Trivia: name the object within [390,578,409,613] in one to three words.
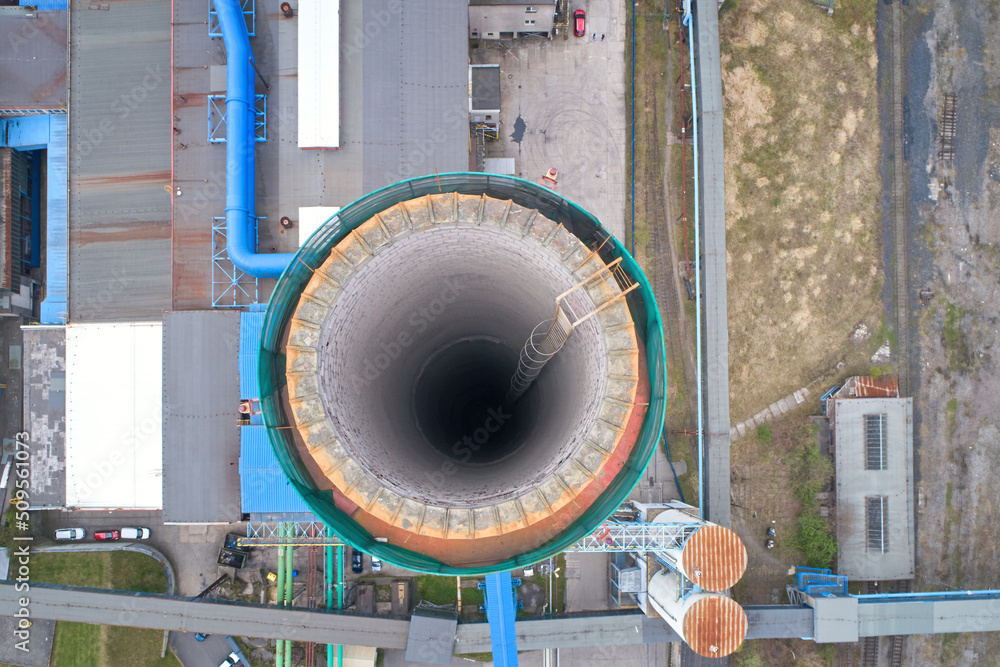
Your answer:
shed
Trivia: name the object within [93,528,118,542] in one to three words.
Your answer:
vehicle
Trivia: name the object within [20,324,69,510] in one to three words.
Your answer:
building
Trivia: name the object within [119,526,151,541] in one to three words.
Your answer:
vehicle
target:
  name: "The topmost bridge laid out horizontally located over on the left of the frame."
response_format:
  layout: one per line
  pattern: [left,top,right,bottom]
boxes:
[237,521,345,547]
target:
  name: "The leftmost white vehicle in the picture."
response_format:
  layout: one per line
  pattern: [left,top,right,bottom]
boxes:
[54,527,86,542]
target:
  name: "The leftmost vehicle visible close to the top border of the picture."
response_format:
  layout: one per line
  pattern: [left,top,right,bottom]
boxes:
[573,9,587,37]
